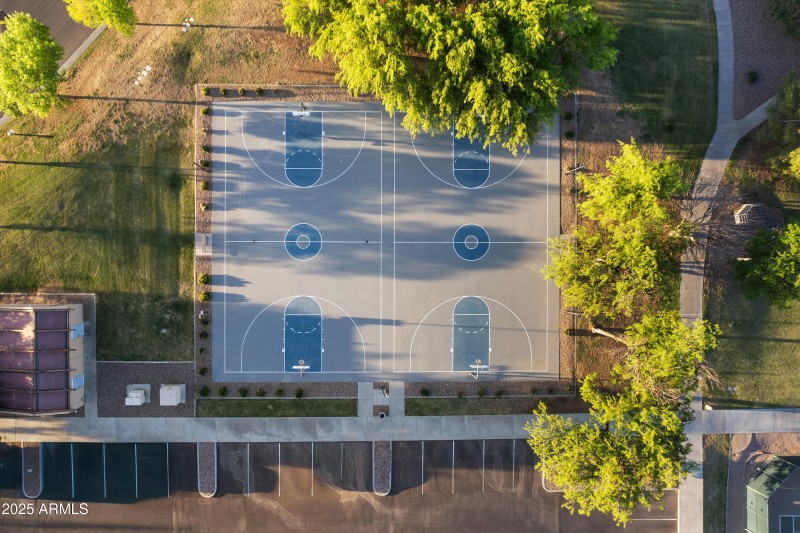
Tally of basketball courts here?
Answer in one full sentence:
In total, 2 basketball courts can be seen.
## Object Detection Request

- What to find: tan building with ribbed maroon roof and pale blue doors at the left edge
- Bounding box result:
[0,303,84,417]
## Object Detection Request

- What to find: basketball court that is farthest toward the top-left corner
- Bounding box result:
[211,102,388,381]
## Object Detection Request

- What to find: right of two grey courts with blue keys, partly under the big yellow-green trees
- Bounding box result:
[388,102,559,381]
